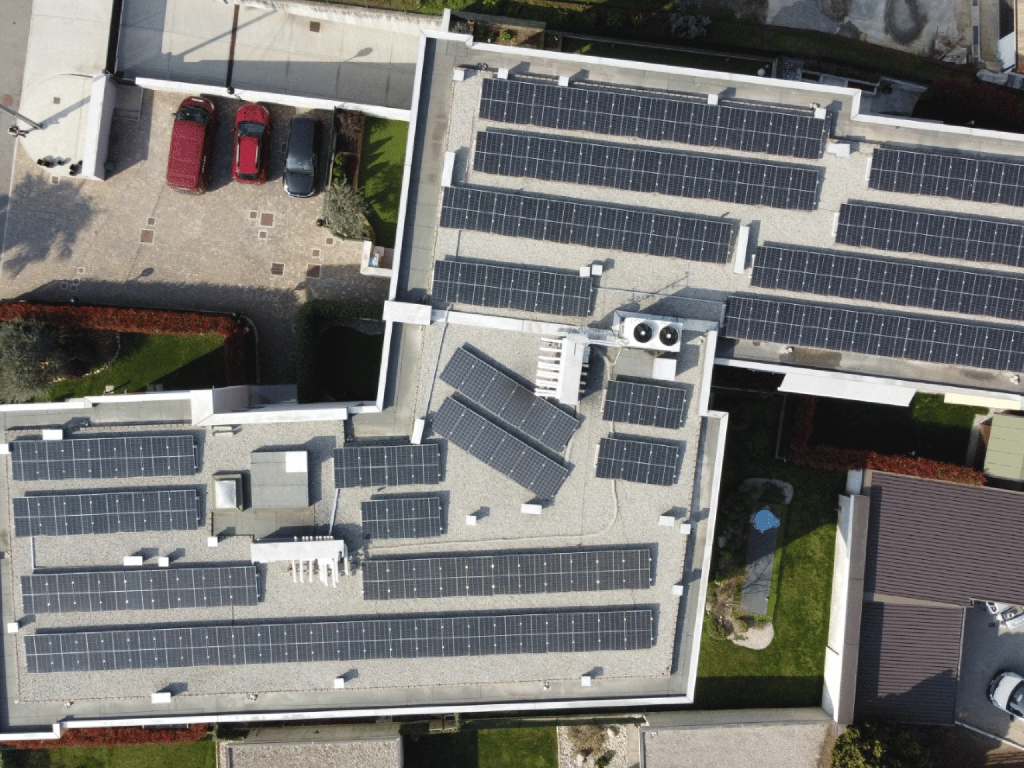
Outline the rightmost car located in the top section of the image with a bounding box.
[279,115,323,200]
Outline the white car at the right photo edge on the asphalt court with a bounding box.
[981,674,1024,726]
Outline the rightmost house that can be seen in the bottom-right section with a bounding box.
[854,474,1024,726]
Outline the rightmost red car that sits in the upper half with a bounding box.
[229,105,272,187]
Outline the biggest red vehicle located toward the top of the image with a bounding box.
[162,98,219,196]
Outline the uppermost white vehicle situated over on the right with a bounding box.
[990,606,1024,638]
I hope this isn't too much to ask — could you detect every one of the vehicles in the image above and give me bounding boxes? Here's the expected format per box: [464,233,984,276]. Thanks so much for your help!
[279,115,323,200]
[162,98,219,196]
[981,674,1024,726]
[990,606,1024,638]
[229,105,272,187]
